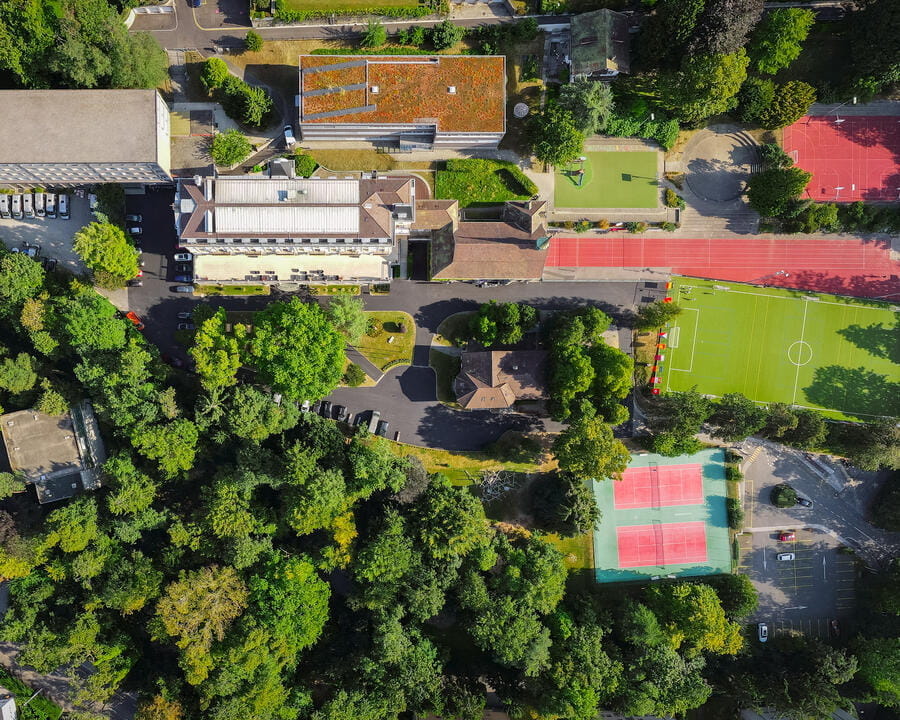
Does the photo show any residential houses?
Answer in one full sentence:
Yes, the photo shows a residential house.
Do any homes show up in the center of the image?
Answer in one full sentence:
Yes, in the center of the image there is a home.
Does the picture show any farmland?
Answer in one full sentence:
No, no farmland is visible.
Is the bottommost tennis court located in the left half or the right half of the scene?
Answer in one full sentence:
It is on the right.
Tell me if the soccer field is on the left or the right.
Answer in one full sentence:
The soccer field is on the right side of the image.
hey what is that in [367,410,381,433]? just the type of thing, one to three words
vehicle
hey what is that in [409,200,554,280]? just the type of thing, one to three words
building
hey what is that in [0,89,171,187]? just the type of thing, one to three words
building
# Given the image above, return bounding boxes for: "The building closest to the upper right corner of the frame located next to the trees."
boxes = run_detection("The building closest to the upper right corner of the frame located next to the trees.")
[566,8,629,82]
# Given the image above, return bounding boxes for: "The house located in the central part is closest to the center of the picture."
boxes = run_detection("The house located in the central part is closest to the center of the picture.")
[456,351,549,412]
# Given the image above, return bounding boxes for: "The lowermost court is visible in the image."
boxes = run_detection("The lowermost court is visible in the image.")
[617,521,708,569]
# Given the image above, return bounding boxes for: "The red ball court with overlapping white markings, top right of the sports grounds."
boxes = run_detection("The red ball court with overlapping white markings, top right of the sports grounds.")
[784,116,900,203]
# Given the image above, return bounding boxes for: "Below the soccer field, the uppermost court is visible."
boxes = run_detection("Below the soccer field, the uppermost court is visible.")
[613,464,703,510]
